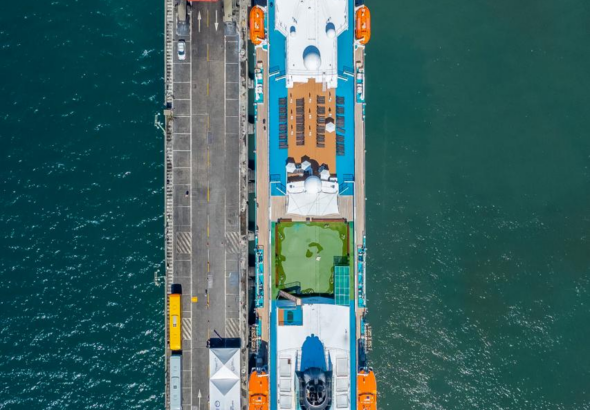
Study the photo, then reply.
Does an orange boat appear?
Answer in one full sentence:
Yes, you can see an orange boat in this photo.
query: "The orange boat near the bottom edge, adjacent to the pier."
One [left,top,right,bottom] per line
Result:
[248,368,270,410]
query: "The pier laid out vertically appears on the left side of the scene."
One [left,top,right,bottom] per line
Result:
[166,0,255,410]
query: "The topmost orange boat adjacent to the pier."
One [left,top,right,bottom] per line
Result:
[249,6,264,46]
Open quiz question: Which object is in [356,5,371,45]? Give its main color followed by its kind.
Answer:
orange boat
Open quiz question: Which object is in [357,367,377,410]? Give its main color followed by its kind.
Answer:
orange boat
